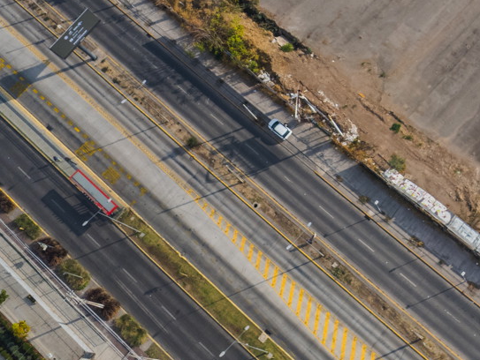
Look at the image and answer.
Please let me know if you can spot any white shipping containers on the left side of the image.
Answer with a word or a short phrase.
No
